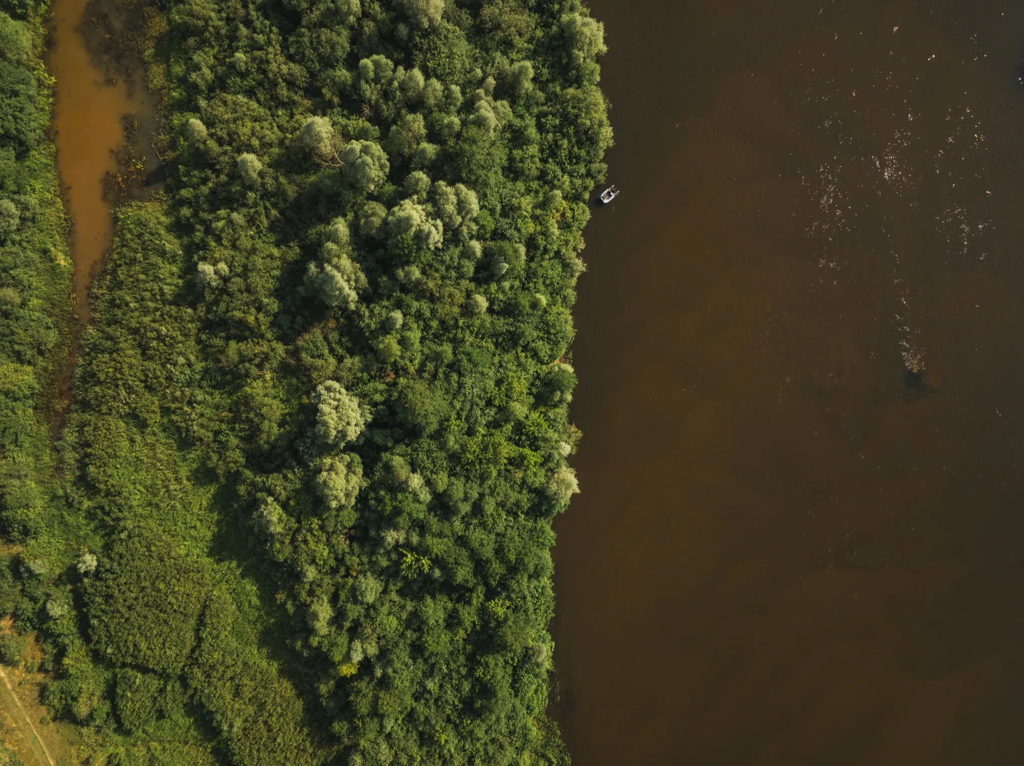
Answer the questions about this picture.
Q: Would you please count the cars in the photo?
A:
0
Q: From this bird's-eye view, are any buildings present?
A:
No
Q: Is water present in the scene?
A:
Yes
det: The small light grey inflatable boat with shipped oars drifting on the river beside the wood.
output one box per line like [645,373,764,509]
[599,183,620,202]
